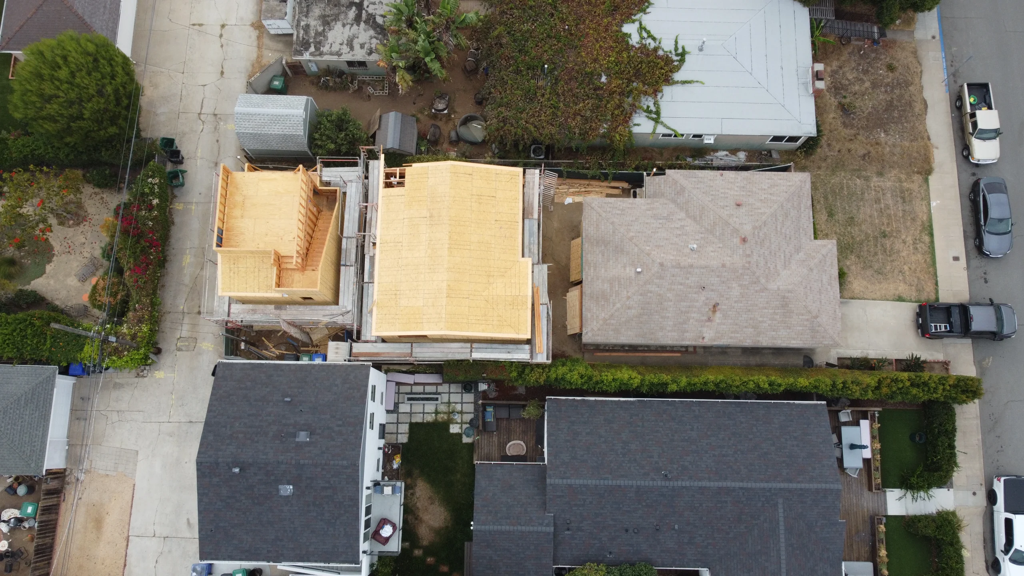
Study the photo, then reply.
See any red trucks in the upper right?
No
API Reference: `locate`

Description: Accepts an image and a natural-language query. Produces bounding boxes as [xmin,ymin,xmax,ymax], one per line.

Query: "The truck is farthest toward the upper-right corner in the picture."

[955,85,1004,165]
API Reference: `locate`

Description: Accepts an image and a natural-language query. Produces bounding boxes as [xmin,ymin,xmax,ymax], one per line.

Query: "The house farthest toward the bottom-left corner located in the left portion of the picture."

[0,363,76,477]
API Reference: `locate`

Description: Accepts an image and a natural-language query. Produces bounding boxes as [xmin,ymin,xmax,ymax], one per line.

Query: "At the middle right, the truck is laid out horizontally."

[911,298,1019,346]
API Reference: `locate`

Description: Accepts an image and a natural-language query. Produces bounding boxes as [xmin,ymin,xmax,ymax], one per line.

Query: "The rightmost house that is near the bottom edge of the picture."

[540,396,846,576]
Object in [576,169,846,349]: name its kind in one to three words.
house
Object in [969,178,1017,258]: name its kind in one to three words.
car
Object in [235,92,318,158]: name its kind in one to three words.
shed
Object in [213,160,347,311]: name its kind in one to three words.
building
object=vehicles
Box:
[911,298,1019,346]
[955,85,1004,165]
[969,178,1017,258]
[988,471,1024,576]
